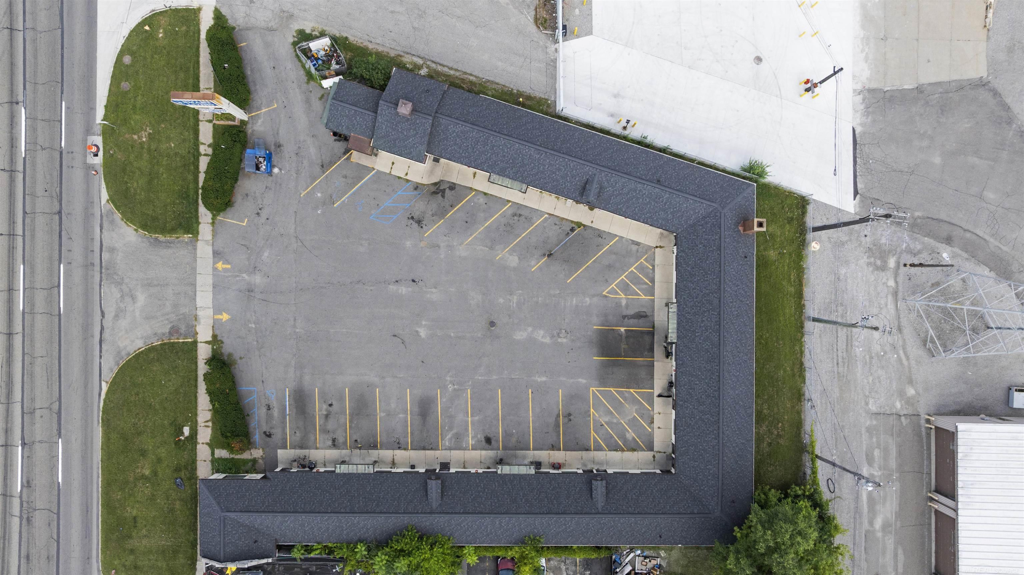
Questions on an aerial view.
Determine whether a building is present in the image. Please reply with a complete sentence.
Yes, a building is visible in the scene.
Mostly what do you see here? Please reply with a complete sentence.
What you mostly see from above here is paved ground.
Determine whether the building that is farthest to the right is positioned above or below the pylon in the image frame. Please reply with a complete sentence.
As seen from overhead, the building that is farthest to the right falls below the pylon in the picture.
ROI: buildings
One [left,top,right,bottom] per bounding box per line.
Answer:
[930,416,1024,575]
[198,67,766,570]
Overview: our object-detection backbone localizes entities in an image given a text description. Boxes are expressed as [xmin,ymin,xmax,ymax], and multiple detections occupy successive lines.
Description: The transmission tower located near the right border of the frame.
[901,268,1024,359]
